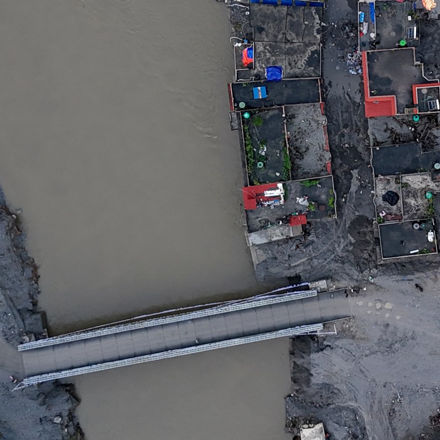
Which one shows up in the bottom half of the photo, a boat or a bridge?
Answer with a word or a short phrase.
bridge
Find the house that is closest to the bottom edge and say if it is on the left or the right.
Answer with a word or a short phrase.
right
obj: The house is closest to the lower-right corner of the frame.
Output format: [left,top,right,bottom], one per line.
[373,219,440,264]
